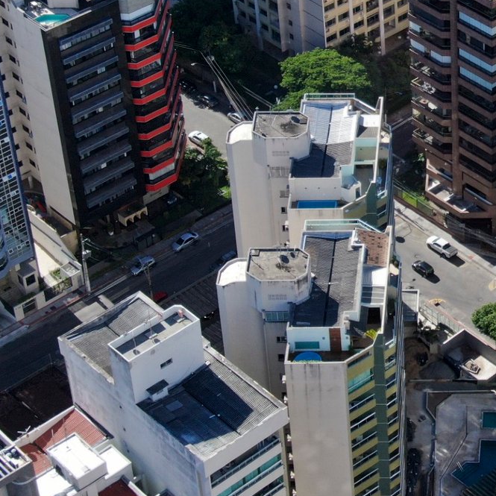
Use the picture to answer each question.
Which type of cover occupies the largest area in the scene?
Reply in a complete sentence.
The scene is dominated by buildings.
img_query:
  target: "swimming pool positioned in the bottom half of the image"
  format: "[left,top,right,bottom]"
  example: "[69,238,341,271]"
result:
[298,345,320,361]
